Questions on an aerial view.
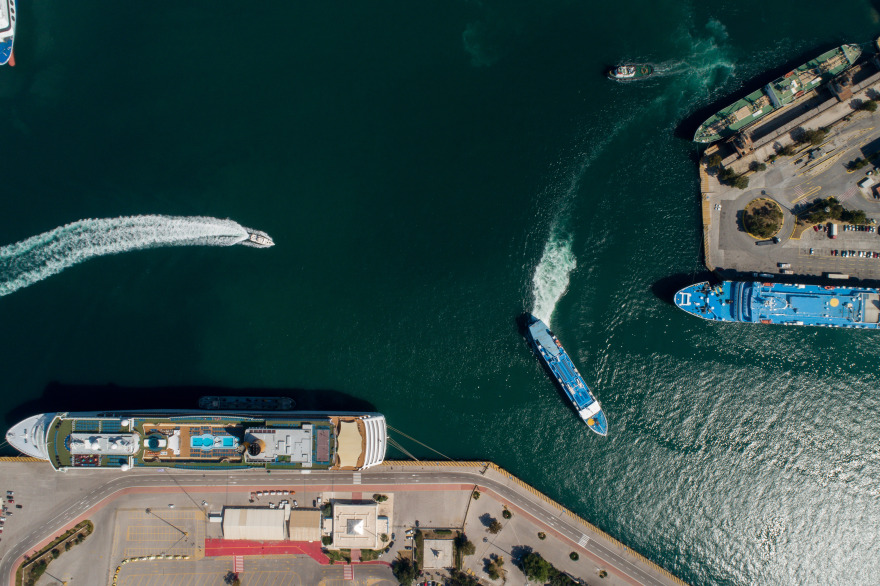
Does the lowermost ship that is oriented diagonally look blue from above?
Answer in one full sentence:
Yes, the lowermost ship that is oriented diagonally is indeed blue.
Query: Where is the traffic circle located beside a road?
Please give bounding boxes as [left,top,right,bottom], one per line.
[743,198,784,240]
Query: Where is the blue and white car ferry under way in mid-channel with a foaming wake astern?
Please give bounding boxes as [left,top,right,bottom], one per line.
[524,318,608,436]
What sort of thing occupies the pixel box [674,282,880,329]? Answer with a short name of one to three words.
ship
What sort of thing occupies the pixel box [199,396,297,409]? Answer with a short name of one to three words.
ship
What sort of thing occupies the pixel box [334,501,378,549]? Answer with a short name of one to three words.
building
